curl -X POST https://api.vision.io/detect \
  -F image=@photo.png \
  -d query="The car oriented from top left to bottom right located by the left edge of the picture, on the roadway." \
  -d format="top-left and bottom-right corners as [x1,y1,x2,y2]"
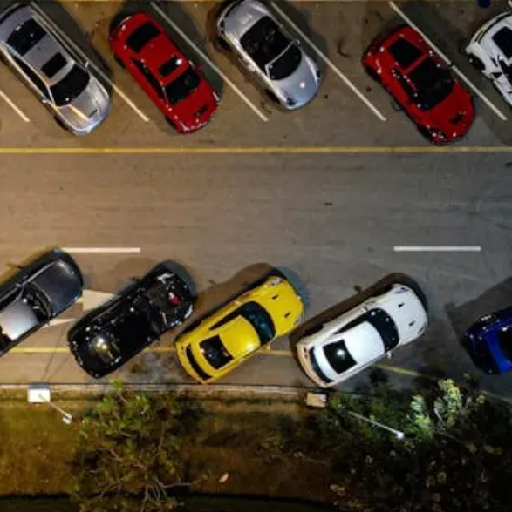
[0,3,107,132]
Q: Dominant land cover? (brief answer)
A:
paved ground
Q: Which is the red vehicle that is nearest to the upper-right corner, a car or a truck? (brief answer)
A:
car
